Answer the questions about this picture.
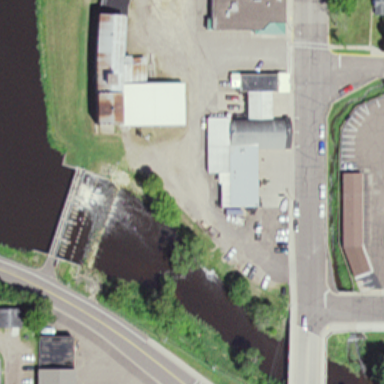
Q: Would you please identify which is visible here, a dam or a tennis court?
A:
dam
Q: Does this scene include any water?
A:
Yes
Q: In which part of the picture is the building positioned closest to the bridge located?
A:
right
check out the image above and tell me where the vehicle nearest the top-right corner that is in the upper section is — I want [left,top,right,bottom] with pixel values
[339,83,355,96]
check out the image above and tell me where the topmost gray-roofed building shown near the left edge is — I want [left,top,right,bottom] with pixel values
[0,307,21,329]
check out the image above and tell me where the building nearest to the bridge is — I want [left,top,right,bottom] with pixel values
[344,172,376,280]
